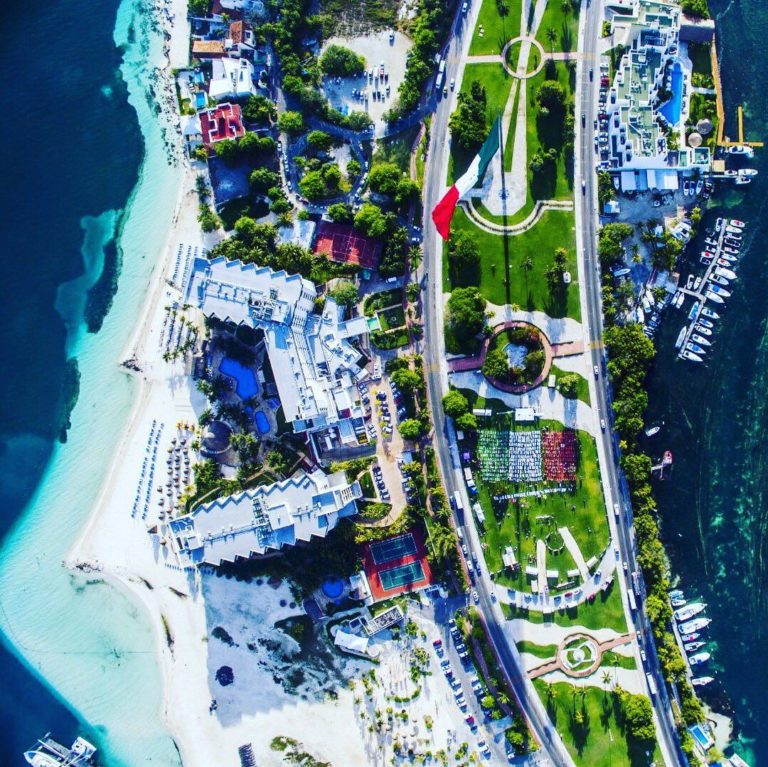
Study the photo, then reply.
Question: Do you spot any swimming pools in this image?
Yes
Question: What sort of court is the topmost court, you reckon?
tennis court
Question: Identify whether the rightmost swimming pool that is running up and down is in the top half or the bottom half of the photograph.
top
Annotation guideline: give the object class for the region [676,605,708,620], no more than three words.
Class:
boat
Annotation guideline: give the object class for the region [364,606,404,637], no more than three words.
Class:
building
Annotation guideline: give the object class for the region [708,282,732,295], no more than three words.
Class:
boat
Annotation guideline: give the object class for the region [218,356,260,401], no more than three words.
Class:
swimming pool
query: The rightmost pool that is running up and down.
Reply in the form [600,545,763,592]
[657,61,684,127]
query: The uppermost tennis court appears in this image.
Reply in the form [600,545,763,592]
[314,219,383,270]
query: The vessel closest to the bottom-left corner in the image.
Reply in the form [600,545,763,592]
[23,730,98,767]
